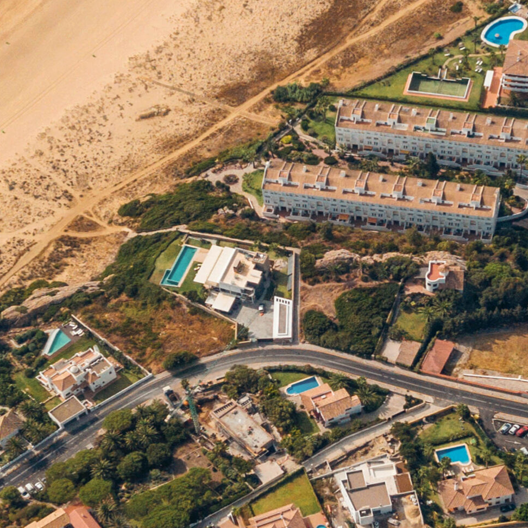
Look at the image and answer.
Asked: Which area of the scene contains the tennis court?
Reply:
top right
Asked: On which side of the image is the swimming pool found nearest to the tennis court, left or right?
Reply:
right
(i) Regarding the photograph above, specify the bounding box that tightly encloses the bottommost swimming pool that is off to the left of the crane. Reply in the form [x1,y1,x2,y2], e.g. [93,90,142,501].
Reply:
[46,326,73,357]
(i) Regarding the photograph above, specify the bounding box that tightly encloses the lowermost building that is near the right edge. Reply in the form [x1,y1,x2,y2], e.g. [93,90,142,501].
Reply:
[437,465,516,517]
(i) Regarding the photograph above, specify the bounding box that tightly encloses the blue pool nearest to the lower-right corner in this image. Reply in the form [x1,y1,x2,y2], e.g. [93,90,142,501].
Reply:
[433,443,473,467]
